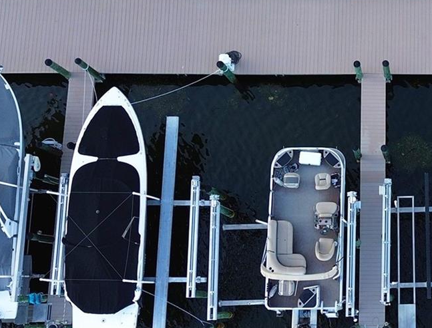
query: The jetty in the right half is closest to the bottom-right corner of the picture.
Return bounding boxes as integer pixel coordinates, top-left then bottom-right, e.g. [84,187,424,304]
[358,75,386,328]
